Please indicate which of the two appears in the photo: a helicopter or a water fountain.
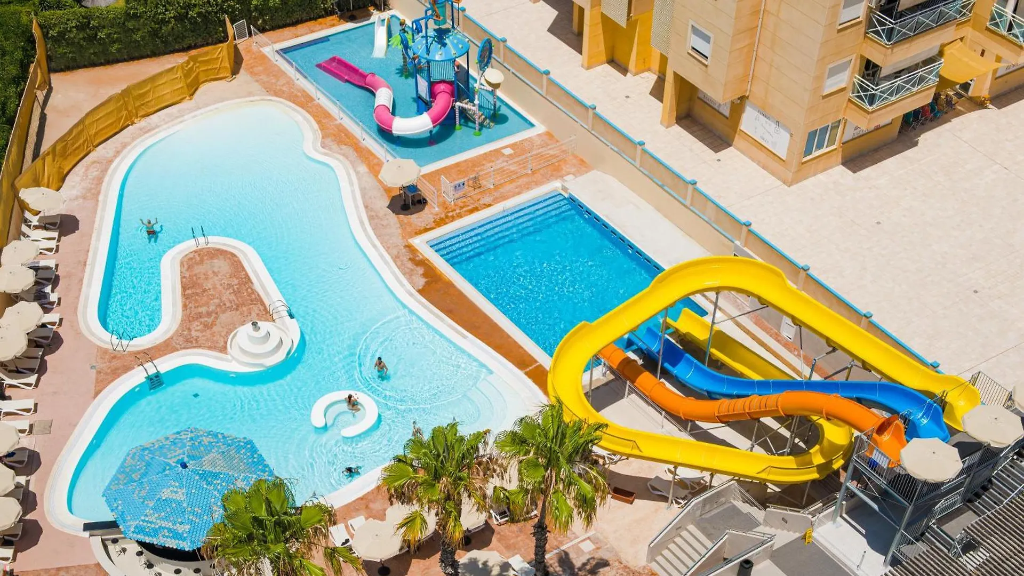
water fountain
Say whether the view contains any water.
Yes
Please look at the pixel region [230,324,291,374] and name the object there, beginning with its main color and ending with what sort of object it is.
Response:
white fountain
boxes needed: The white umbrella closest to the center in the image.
[379,163,420,209]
